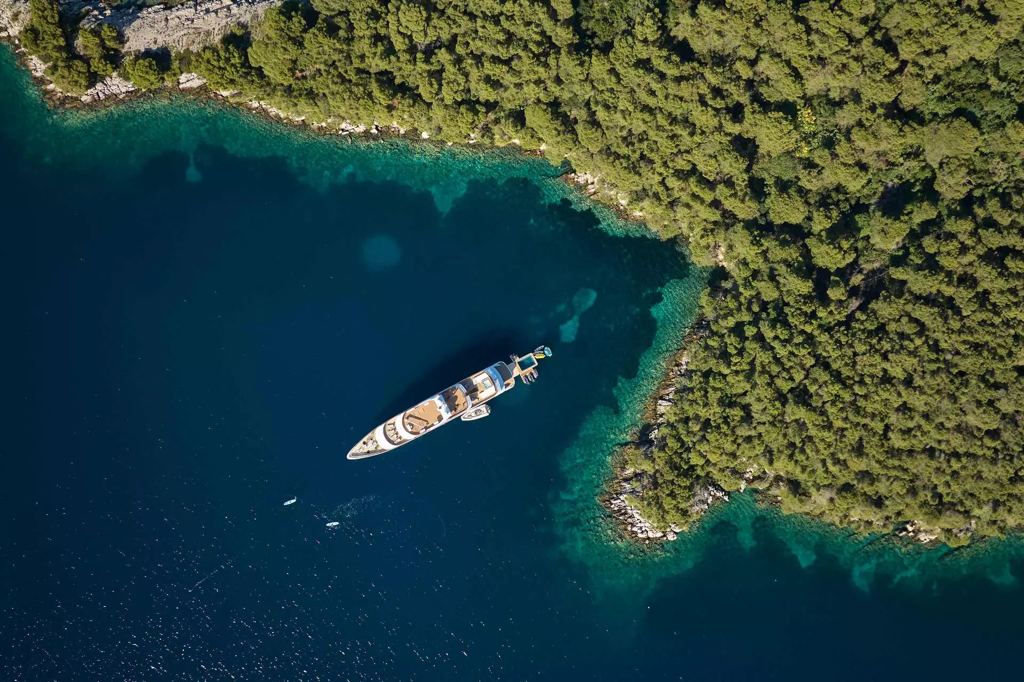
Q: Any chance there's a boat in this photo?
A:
Yes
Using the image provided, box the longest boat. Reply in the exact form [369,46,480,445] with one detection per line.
[347,362,514,459]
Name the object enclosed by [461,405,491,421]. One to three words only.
boat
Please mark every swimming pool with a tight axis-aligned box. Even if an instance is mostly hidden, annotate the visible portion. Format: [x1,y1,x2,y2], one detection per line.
[515,353,537,373]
